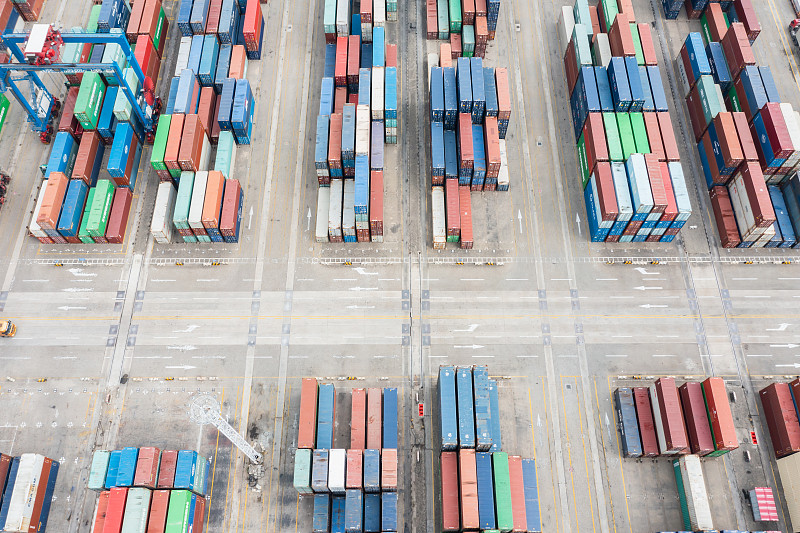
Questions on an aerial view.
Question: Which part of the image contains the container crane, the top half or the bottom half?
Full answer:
Seen from above, the container crane lies in the top half of the view.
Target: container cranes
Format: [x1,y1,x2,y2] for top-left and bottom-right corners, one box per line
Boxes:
[0,24,161,144]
